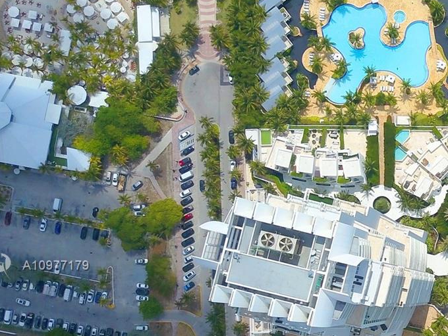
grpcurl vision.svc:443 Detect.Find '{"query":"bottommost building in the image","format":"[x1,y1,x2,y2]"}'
[193,199,435,336]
